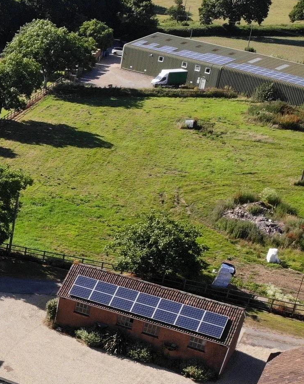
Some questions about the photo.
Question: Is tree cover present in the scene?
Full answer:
Yes, tree cover shows up in the scene.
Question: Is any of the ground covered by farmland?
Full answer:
Yes, the picture does contain farmland.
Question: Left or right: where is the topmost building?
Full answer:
You can find the topmost building on the right side of the picture.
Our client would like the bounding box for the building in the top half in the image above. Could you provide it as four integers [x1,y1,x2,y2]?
[120,32,304,112]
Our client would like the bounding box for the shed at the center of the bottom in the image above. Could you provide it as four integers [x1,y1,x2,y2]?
[54,262,245,377]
